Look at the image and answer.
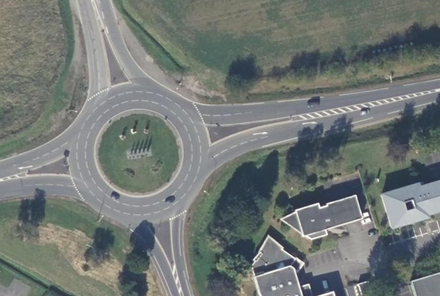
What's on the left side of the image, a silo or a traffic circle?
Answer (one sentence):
There is a traffic circle on the left side of the image.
